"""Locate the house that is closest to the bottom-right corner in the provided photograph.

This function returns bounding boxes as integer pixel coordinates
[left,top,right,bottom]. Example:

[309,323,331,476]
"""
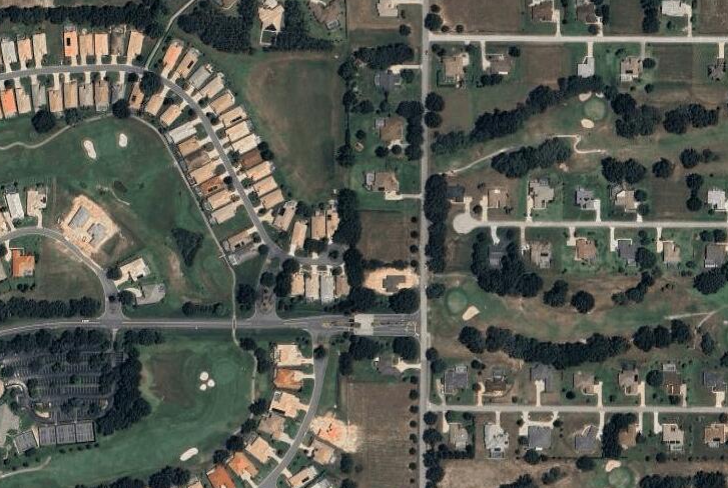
[705,427,725,448]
